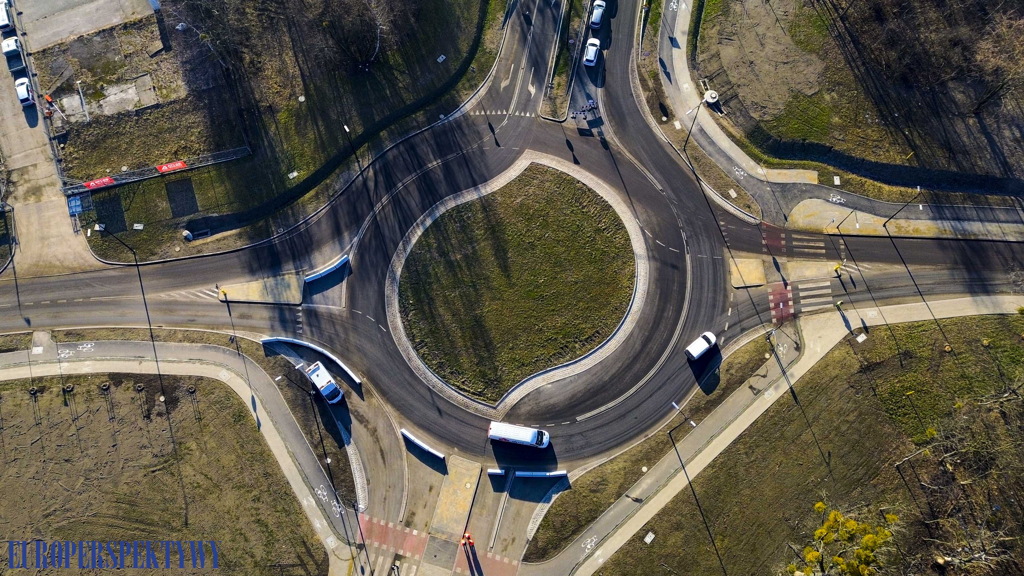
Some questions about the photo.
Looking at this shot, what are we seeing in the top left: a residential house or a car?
car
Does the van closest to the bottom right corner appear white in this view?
Yes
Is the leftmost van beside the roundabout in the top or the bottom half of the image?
bottom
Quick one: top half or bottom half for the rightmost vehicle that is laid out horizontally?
bottom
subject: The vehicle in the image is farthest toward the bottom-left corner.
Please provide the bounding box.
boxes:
[304,359,345,409]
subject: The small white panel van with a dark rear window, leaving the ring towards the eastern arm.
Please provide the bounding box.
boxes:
[682,330,718,363]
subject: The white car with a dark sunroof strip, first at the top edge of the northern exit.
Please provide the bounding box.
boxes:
[589,2,607,31]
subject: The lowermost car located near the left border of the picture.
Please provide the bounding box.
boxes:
[14,79,36,108]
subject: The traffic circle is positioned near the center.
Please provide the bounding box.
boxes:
[327,35,713,549]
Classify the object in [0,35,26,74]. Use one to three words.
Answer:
truck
